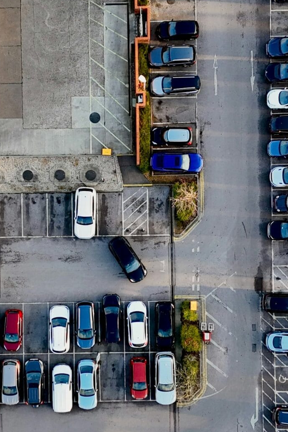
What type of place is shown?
parking lot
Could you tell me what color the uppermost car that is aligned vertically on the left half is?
white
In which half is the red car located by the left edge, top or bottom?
bottom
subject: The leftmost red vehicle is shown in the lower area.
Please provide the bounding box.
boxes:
[2,308,24,351]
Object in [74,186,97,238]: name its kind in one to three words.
car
